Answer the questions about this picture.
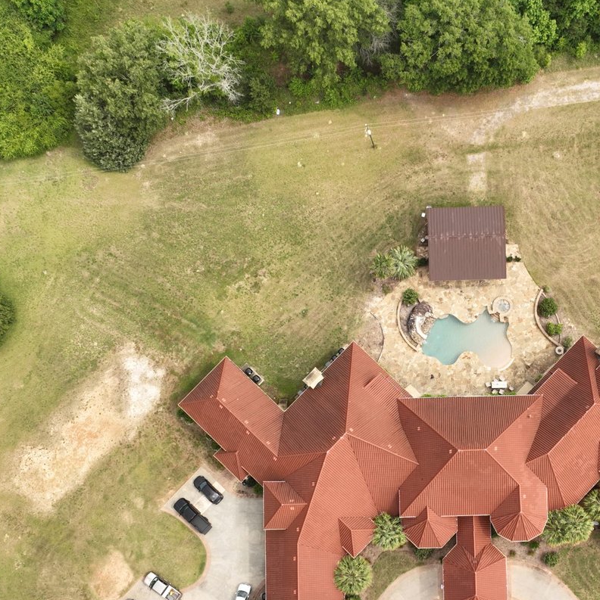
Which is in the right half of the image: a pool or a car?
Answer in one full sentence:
It is a pool that can be seen in the right half of the image.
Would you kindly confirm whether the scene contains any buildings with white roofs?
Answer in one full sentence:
No, I can't see a single building with a white roof in this photo.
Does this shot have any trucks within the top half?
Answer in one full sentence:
No, no truck appears within the top half.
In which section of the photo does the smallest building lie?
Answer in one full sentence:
The smallest building is located in the right region of the scene.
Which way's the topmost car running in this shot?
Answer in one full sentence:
The topmost car is laid out at an angle.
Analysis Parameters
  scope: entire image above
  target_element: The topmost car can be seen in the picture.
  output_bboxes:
[194,475,227,508]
